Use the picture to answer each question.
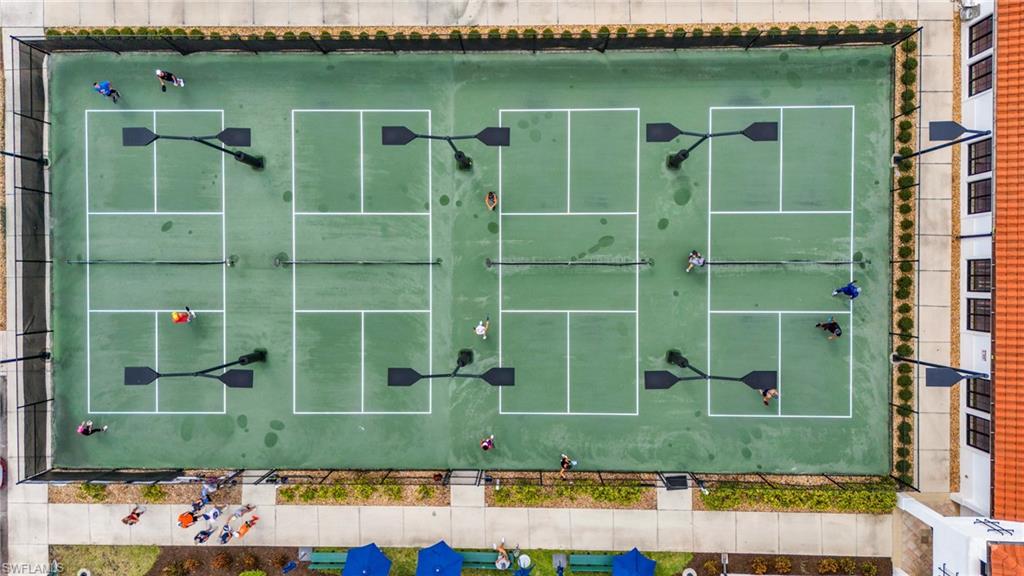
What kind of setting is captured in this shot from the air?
sports ground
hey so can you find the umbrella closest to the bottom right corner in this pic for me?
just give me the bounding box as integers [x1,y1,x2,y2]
[608,545,658,576]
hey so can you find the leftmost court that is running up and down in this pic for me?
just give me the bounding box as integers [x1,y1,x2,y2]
[86,110,226,413]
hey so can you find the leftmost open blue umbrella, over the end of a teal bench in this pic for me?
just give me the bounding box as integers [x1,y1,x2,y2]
[340,541,394,576]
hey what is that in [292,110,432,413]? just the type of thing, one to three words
sports court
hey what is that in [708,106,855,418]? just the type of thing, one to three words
sports court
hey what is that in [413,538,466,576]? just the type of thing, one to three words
umbrella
